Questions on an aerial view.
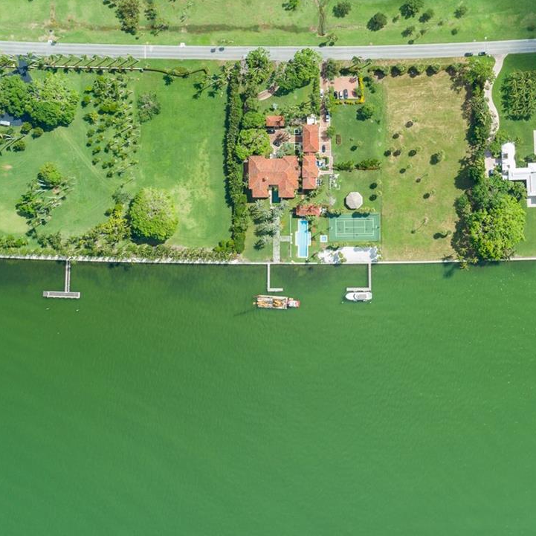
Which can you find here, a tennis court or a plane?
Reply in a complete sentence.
This aerial view contains a tennis court.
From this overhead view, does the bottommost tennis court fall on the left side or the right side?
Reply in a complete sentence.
The bottommost tennis court sits on the right side.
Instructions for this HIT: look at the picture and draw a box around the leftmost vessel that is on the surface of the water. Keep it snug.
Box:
[250,296,287,309]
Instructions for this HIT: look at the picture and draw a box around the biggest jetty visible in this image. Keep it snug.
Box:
[43,262,79,299]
